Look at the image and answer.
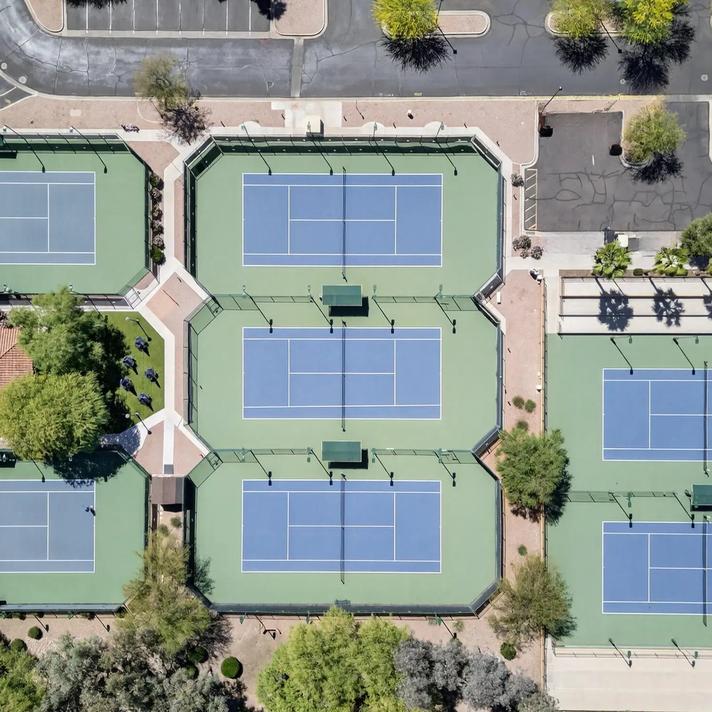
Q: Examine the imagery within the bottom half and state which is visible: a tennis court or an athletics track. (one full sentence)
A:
You can see a tennis court within the bottom half.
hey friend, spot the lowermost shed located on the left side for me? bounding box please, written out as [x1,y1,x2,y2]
[151,475,186,505]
